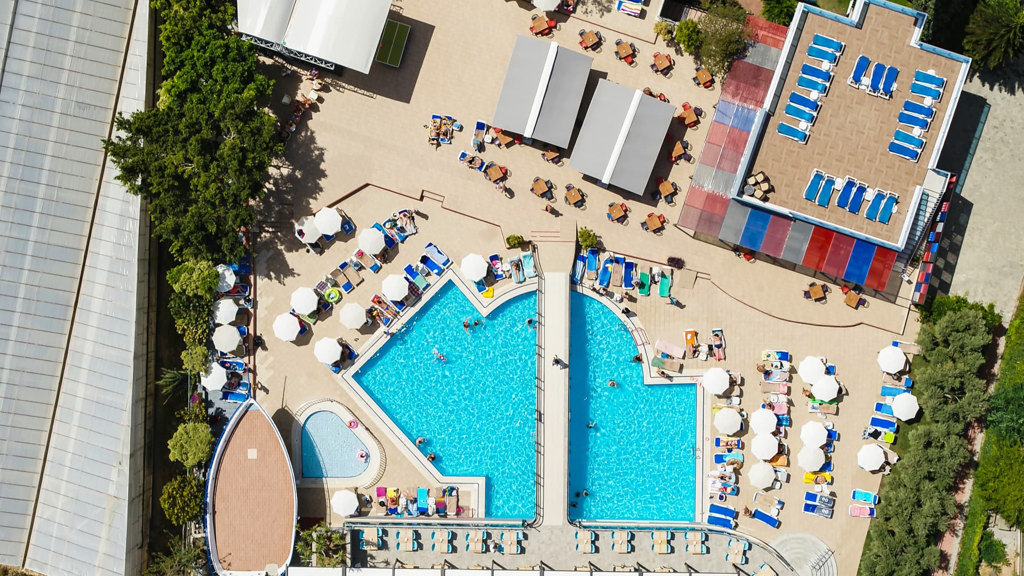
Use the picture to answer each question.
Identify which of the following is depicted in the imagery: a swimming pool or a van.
swimming pool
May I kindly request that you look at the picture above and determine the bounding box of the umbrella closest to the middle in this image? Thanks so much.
[461,255,489,283]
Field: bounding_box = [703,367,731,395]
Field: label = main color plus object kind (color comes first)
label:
white umbrella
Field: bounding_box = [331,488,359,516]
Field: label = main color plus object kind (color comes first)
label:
white umbrella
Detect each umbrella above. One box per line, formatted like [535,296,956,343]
[878,345,905,372]
[313,207,341,236]
[809,375,838,402]
[703,367,731,395]
[331,488,359,516]
[213,325,240,352]
[746,460,774,488]
[797,445,826,471]
[749,434,776,460]
[339,302,367,330]
[797,353,826,382]
[856,443,885,472]
[200,363,228,391]
[213,265,241,293]
[750,409,778,436]
[358,229,387,257]
[712,405,740,433]
[313,336,342,364]
[461,255,489,283]
[382,275,411,303]
[273,313,300,340]
[891,393,919,422]
[292,288,320,315]
[212,297,240,325]
[295,216,322,244]
[797,419,826,446]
